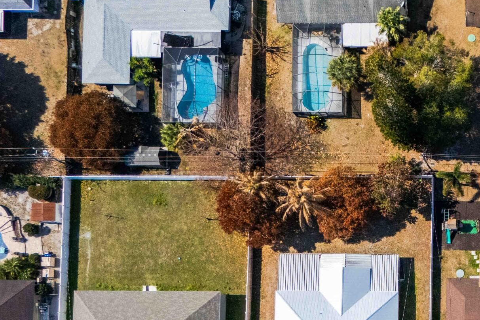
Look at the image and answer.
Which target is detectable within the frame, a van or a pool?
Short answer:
pool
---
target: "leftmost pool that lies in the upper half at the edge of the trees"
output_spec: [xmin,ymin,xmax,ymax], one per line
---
[176,53,218,119]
